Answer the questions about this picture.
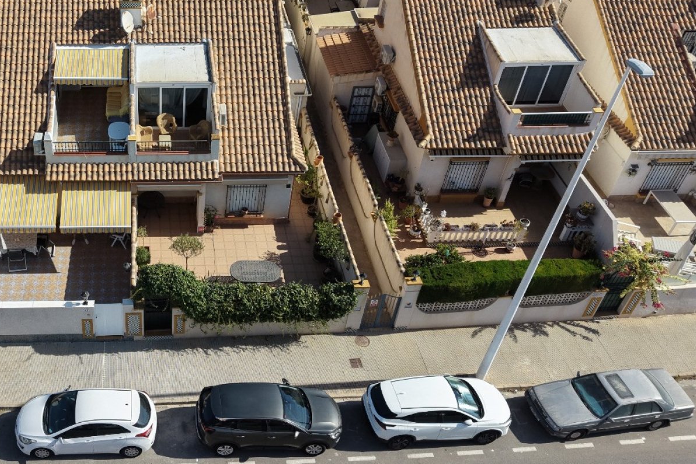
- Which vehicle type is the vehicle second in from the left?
car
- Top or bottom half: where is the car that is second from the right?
bottom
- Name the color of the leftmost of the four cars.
white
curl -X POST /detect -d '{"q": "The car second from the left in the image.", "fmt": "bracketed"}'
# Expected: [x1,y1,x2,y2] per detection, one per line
[192,378,343,460]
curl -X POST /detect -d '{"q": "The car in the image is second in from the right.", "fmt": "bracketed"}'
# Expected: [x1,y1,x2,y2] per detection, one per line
[362,368,513,453]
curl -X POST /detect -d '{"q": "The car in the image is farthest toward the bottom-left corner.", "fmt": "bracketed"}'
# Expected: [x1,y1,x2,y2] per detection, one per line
[16,384,159,462]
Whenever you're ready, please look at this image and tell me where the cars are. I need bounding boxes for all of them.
[16,384,159,462]
[519,367,694,443]
[192,378,343,460]
[362,368,513,453]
